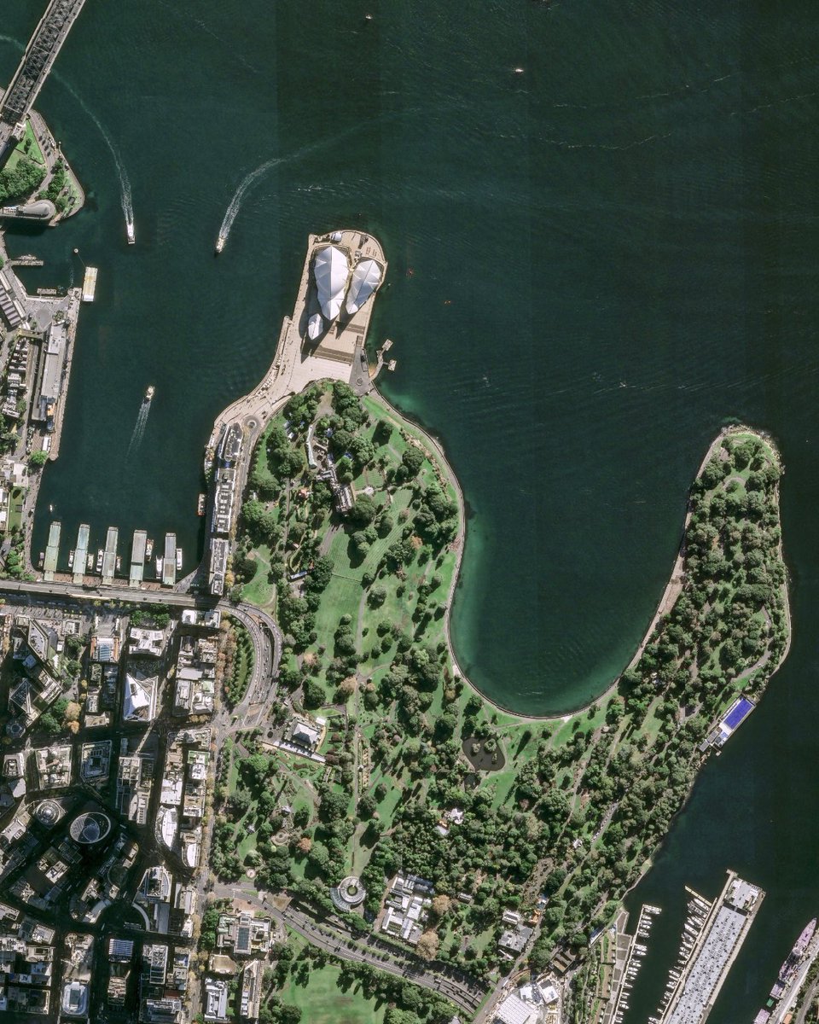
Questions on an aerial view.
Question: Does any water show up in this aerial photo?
Yes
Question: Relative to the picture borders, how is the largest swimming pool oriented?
on a diagonal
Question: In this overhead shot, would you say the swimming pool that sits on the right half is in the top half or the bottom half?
bottom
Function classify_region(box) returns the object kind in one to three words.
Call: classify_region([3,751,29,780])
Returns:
building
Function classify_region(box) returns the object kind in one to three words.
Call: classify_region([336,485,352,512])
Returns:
house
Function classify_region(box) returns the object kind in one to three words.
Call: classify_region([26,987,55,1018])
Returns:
building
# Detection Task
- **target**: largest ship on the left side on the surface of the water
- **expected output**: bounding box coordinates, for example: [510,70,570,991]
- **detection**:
[82,267,98,302]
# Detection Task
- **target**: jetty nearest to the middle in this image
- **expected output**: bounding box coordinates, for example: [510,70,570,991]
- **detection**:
[371,339,396,381]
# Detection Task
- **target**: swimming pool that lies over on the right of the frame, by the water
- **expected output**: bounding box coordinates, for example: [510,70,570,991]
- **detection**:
[701,694,756,756]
